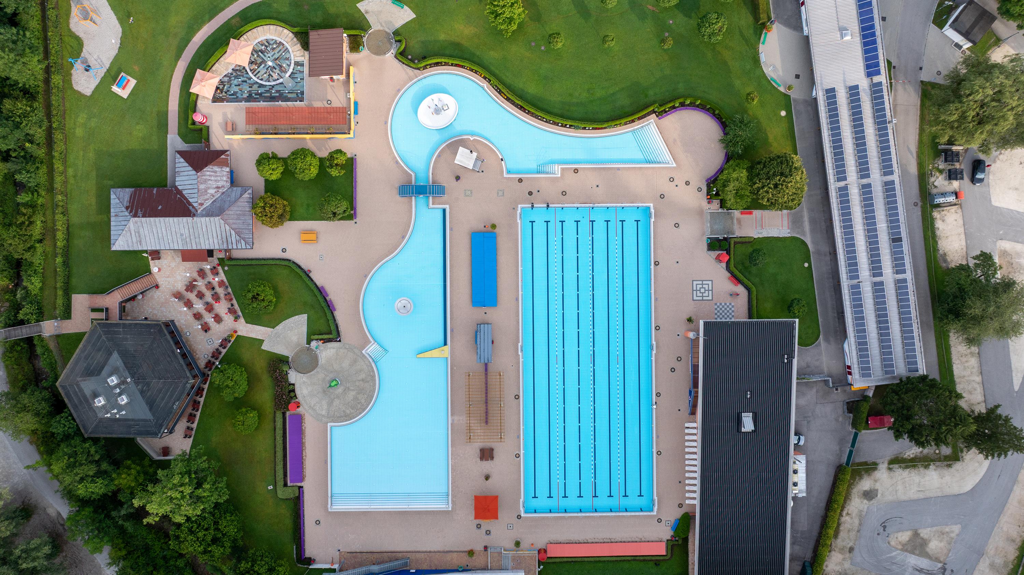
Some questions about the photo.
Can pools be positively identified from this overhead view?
Yes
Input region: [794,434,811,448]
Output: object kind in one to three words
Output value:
car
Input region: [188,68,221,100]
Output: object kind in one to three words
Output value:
umbrella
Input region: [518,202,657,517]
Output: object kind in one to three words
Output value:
swimming pool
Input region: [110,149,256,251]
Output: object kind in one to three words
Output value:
building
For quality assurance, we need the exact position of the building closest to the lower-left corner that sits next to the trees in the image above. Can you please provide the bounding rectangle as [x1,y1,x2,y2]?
[55,318,207,458]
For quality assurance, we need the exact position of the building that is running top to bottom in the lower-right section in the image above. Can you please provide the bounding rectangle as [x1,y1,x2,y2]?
[693,319,806,575]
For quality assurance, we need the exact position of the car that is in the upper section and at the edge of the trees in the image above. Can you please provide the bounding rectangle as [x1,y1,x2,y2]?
[972,159,990,186]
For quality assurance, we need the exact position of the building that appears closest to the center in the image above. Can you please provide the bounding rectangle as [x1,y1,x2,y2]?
[477,324,492,363]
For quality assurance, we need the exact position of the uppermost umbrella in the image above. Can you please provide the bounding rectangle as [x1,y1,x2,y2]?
[224,36,254,68]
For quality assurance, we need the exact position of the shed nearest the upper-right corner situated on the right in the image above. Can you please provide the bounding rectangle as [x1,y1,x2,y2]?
[940,0,996,53]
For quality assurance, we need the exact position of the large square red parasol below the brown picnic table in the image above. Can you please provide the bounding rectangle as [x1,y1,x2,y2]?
[474,495,499,520]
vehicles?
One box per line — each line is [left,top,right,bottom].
[794,434,811,448]
[972,159,990,186]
